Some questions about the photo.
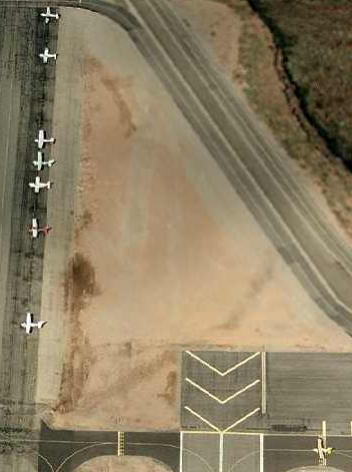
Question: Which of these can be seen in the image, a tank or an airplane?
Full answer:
The image shows an airplane.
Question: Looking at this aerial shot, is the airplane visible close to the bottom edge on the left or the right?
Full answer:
The airplane visible close to the bottom edge appears in the right half of the scene.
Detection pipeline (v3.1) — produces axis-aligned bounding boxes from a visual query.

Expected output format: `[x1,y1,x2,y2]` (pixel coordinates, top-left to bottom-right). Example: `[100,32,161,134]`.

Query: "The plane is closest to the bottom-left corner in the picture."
[21,311,45,333]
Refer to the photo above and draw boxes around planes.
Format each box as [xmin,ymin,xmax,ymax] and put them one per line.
[41,7,61,22]
[34,129,55,147]
[30,178,51,194]
[28,218,50,236]
[33,151,54,169]
[312,436,334,463]
[39,48,60,63]
[21,311,45,333]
